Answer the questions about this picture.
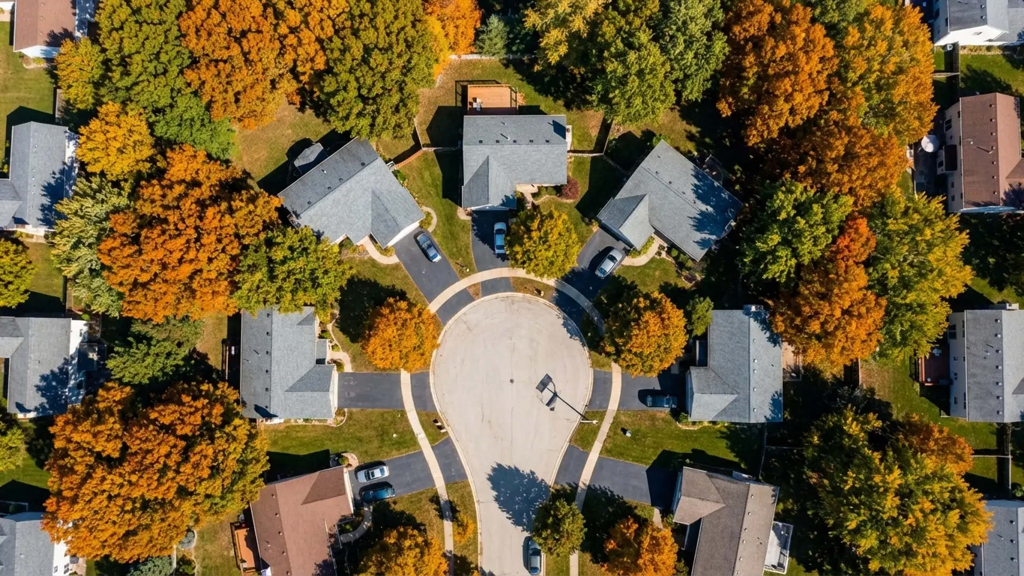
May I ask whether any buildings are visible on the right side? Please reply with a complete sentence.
Yes, there is a building on the right side.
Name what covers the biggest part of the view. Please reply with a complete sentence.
The largest share of the image is taken up by trees.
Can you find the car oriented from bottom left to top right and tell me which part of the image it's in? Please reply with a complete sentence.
The car oriented from bottom left to top right sits in the center section of the image.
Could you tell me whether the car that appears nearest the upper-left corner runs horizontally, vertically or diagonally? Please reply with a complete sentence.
Seen from above, the car that appears nearest the upper-left corner lies diagonally.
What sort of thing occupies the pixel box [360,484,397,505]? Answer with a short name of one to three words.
car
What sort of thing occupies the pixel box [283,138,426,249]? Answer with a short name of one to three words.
house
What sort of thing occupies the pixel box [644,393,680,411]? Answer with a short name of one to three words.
car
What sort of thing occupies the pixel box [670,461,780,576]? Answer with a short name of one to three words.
house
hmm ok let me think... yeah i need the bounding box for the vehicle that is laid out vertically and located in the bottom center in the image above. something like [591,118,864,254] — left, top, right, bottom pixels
[527,538,543,573]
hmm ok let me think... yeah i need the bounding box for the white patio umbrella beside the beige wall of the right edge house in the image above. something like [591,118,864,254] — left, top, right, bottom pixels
[918,135,938,153]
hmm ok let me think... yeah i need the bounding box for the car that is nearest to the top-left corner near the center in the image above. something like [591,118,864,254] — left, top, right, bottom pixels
[414,230,444,264]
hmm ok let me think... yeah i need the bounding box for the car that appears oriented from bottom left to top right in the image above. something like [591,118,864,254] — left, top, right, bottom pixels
[594,247,624,280]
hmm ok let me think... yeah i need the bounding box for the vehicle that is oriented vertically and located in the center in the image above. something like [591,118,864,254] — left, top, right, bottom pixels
[492,221,508,256]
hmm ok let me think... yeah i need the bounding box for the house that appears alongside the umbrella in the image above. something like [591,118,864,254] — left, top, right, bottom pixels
[932,94,1024,210]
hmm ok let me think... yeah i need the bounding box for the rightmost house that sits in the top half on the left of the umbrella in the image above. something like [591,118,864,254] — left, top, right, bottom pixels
[596,139,742,262]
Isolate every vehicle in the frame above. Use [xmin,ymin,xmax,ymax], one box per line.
[492,221,508,256]
[527,538,543,573]
[354,461,392,482]
[594,247,624,280]
[414,230,444,264]
[360,484,397,505]
[644,393,680,411]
